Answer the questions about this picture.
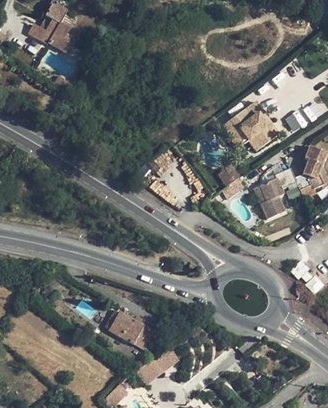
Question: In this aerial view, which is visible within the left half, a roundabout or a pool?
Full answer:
The one visible within the left half is a pool.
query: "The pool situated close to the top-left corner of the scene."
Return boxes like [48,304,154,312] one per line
[38,50,74,76]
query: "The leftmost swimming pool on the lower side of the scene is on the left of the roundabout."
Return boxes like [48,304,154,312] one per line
[74,300,105,324]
